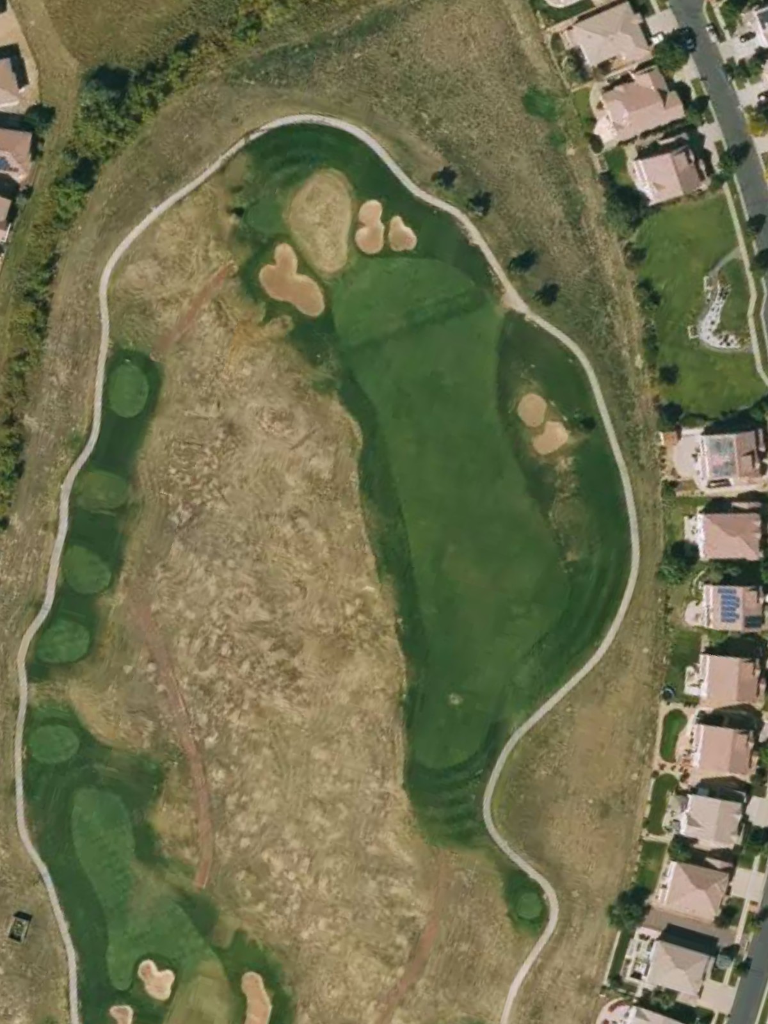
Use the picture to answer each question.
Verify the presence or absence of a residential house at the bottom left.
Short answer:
No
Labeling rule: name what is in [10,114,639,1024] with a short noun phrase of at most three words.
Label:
golf course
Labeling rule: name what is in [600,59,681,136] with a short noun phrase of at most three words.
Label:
house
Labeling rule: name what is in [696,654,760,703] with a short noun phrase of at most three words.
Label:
house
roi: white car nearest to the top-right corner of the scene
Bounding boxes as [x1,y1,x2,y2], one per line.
[705,26,717,42]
